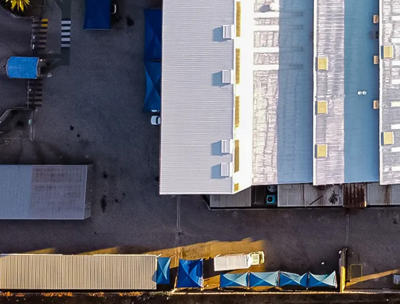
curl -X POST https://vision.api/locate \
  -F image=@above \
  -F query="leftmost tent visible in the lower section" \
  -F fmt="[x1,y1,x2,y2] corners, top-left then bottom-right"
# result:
[158,253,178,285]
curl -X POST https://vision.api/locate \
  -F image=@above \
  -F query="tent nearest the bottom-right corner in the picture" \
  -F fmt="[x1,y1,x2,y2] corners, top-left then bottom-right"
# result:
[308,267,336,287]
